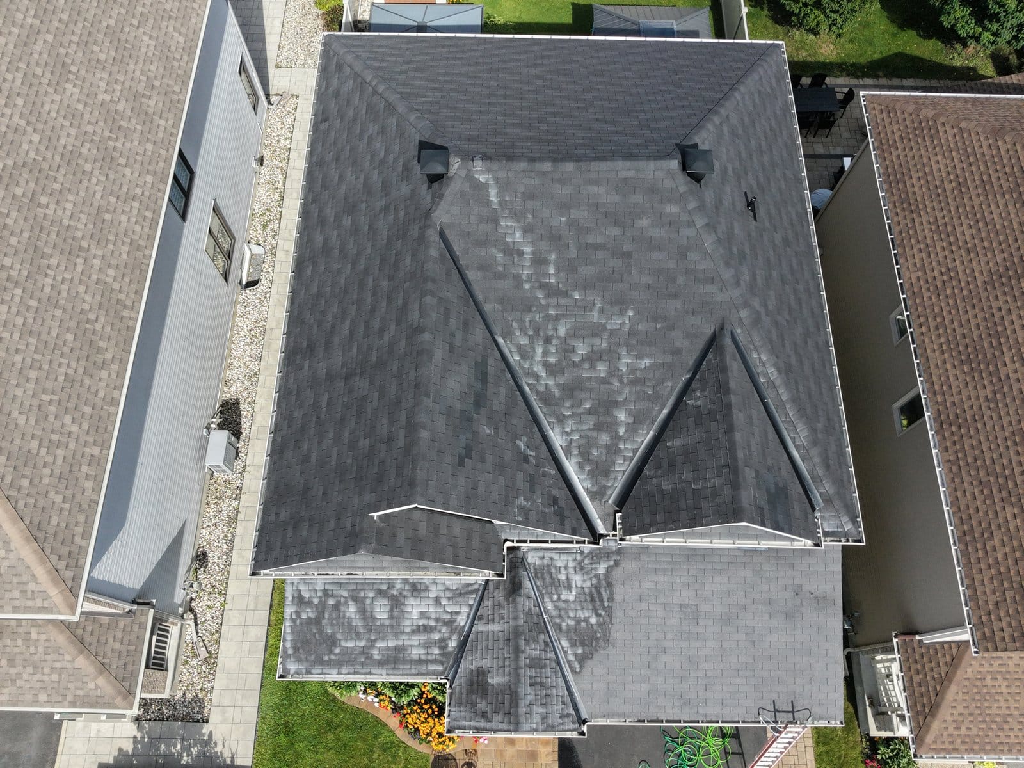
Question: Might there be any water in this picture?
No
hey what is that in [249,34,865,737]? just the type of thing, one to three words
house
